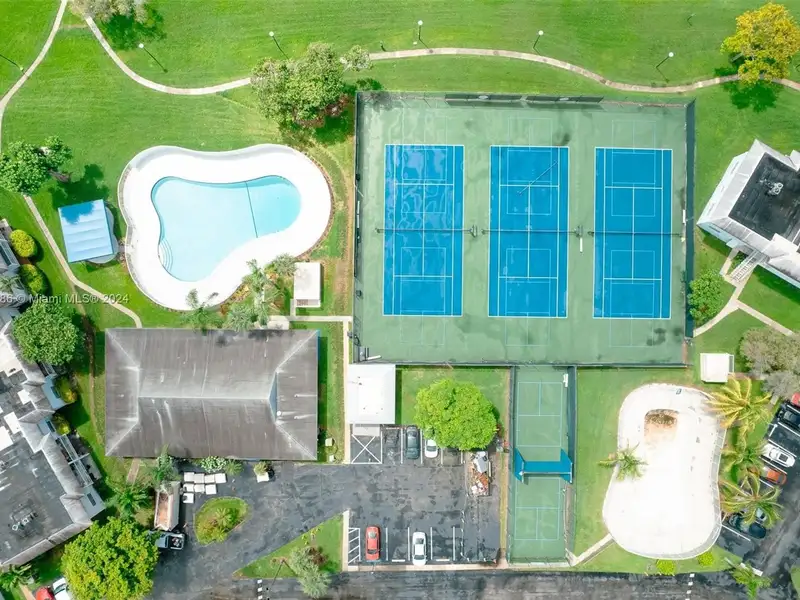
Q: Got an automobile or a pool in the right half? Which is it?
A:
automobile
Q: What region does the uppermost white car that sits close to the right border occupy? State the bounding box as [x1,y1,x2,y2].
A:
[760,442,795,470]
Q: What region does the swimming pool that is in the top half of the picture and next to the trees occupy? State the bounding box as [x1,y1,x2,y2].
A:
[122,147,332,309]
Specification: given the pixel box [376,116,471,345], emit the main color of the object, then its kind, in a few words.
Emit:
blue tennis court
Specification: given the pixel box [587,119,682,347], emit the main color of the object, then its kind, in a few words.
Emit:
blue tennis court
